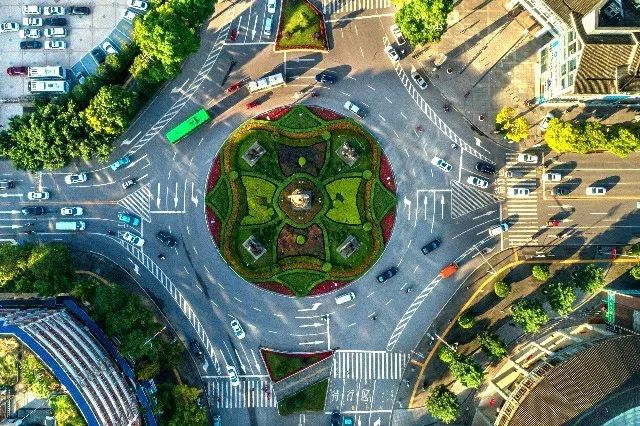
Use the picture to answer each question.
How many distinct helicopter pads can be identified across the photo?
none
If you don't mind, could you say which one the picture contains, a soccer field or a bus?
bus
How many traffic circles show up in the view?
1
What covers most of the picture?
paved ground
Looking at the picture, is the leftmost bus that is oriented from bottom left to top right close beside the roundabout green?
Yes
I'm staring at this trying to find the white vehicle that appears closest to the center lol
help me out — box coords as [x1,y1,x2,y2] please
[334,291,356,305]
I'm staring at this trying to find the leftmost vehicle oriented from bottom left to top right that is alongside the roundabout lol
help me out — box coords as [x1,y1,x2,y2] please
[165,109,212,144]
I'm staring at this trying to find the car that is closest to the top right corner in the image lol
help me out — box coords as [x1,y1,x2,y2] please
[539,111,555,134]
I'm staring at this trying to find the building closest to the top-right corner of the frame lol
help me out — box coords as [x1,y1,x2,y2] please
[497,0,640,109]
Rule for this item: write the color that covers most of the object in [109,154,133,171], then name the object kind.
blue car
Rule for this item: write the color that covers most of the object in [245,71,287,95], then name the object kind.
white bus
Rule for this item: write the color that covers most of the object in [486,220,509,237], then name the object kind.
white vehicle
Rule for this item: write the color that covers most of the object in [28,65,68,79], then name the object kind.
white vehicle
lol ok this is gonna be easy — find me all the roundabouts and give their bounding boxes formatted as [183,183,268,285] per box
[203,102,399,298]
